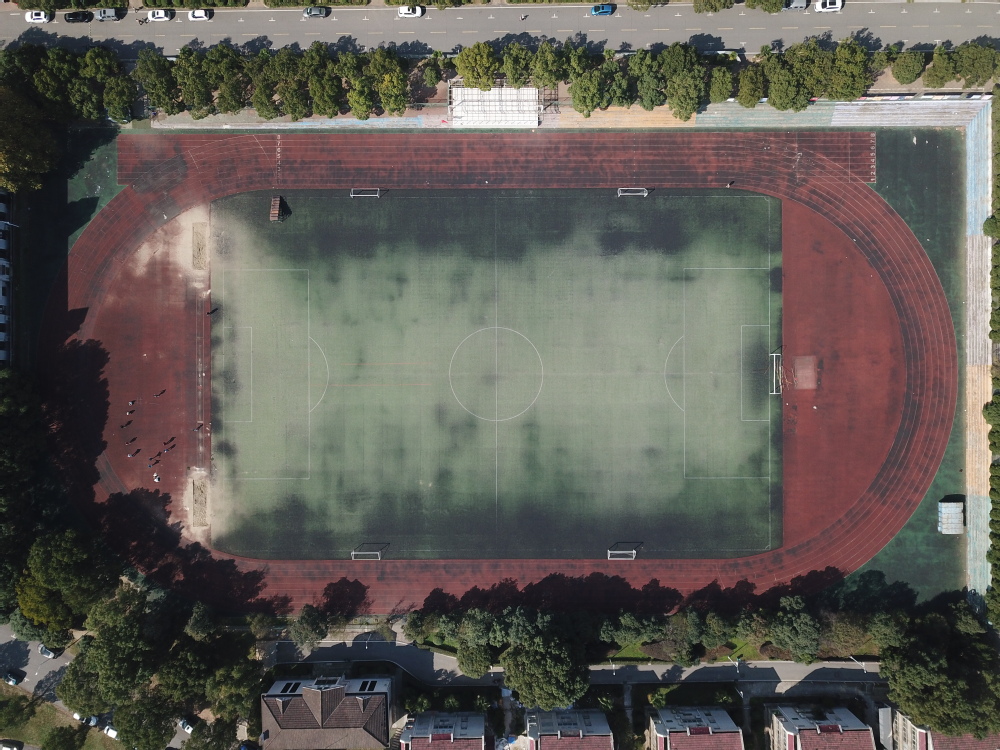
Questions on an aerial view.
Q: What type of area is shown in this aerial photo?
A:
sports ground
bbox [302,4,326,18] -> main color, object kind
gray vehicle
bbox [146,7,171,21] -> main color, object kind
white vehicle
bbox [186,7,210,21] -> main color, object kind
white vehicle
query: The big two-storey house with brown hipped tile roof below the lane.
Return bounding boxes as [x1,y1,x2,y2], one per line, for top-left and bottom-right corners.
[262,659,394,750]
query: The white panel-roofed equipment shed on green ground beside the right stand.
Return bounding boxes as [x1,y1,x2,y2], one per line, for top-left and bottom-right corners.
[933,501,962,533]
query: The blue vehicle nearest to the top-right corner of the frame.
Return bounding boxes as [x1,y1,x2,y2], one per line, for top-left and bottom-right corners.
[592,1,613,15]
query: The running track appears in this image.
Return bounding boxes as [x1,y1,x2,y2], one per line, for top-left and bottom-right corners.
[42,133,958,612]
